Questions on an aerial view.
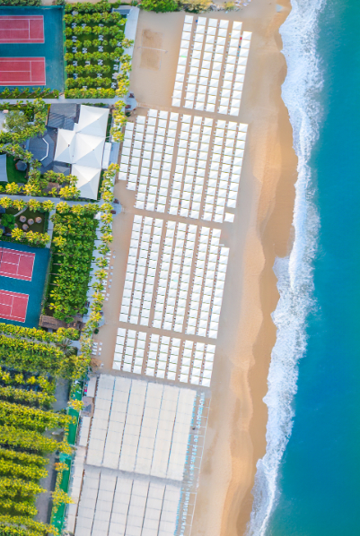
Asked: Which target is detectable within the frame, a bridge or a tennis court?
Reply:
tennis court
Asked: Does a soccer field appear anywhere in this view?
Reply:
No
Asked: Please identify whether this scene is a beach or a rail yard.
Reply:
beach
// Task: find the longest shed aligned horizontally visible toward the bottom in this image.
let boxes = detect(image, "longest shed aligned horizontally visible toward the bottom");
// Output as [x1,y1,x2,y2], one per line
[39,315,83,330]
